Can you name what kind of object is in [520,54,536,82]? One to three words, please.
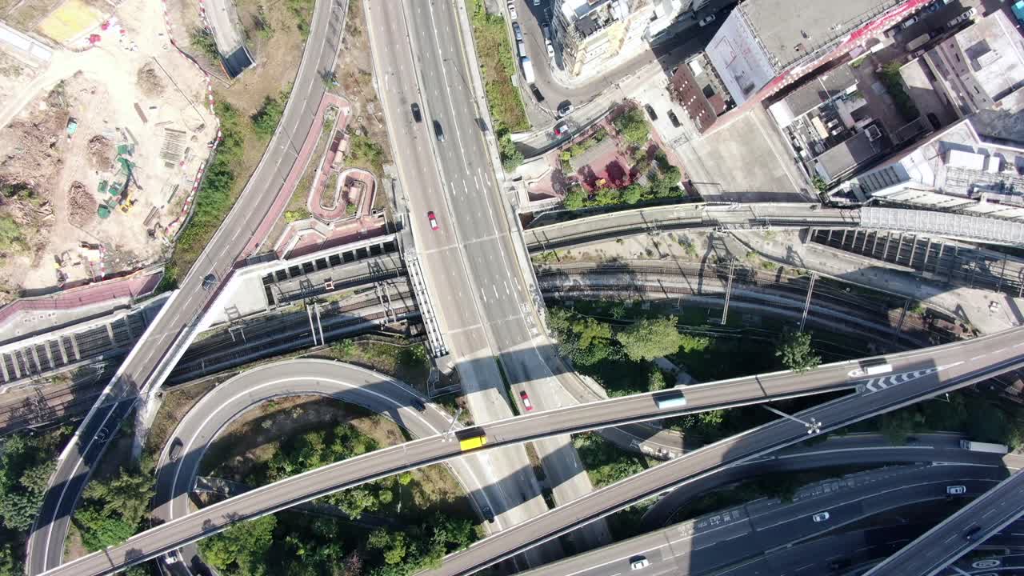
vehicle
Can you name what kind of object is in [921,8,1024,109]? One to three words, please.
building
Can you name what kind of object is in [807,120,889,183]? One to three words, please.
building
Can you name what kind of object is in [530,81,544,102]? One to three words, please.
car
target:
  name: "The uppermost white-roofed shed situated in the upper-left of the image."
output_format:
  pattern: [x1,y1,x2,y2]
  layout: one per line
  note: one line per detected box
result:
[0,19,58,67]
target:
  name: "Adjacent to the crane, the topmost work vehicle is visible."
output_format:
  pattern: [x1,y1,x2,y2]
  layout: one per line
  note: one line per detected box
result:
[113,184,140,214]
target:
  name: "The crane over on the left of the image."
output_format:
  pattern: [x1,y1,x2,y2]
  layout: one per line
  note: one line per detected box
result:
[109,153,142,199]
